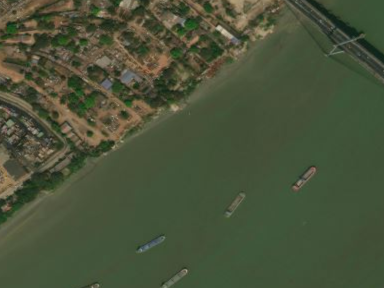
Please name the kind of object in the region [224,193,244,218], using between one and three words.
ship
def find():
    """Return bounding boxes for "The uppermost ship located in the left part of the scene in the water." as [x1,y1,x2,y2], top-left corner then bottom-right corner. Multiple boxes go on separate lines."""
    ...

[137,236,165,253]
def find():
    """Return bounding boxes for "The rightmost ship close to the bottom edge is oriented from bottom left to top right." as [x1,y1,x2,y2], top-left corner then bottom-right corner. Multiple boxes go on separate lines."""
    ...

[160,268,187,288]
